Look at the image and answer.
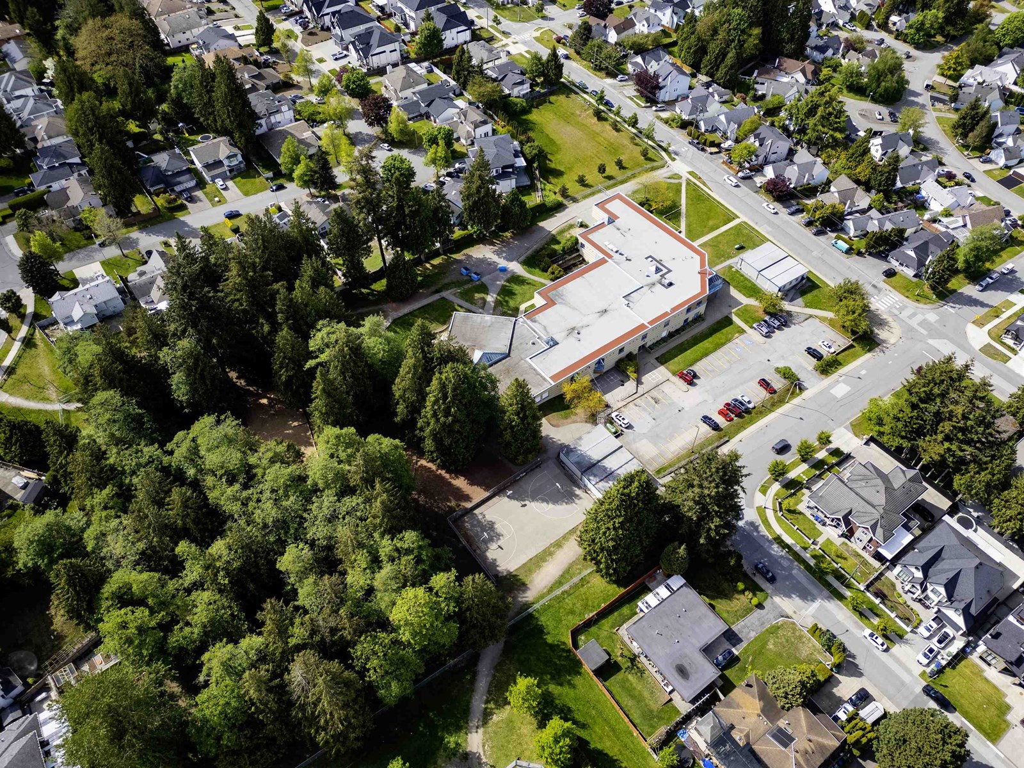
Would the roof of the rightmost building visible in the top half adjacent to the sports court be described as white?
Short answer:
Yes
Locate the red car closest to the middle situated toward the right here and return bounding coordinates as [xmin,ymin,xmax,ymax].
[676,370,696,386]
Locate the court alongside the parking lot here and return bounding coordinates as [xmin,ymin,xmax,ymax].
[449,457,597,579]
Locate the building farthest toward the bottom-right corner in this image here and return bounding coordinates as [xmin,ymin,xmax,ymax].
[970,597,1024,683]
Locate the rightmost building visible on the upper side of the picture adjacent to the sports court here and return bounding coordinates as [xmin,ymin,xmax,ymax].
[516,192,723,404]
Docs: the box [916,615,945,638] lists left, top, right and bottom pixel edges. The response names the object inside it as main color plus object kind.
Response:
white truck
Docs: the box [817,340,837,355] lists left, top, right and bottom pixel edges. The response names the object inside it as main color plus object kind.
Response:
white car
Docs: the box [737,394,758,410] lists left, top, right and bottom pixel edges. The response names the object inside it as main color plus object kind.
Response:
white car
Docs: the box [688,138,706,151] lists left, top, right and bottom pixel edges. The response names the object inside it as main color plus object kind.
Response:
gray vehicle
